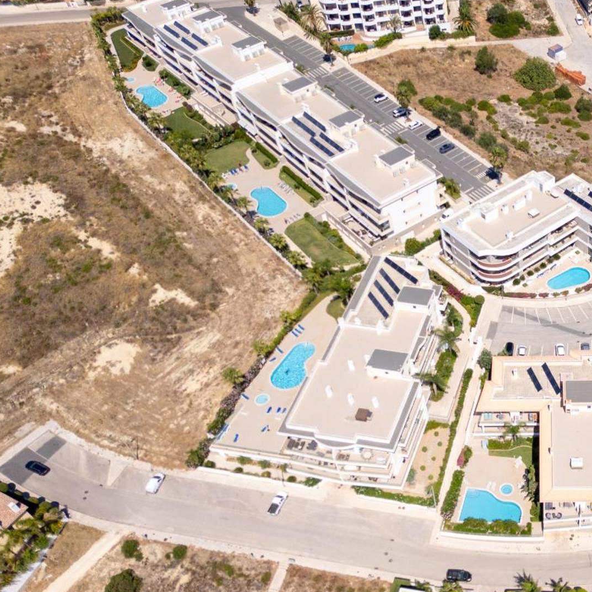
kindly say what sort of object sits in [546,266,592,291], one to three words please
swimming pool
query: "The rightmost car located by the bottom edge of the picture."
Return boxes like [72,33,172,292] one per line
[445,566,474,583]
